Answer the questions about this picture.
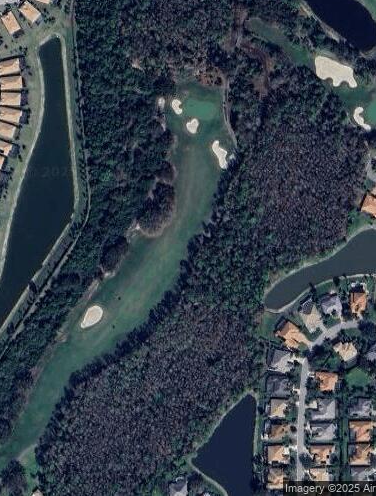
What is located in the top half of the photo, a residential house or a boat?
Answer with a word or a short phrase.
residential house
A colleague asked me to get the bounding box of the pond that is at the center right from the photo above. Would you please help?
[265,228,376,310]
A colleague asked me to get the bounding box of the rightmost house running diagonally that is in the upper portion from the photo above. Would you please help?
[20,0,47,25]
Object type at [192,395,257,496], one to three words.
pond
